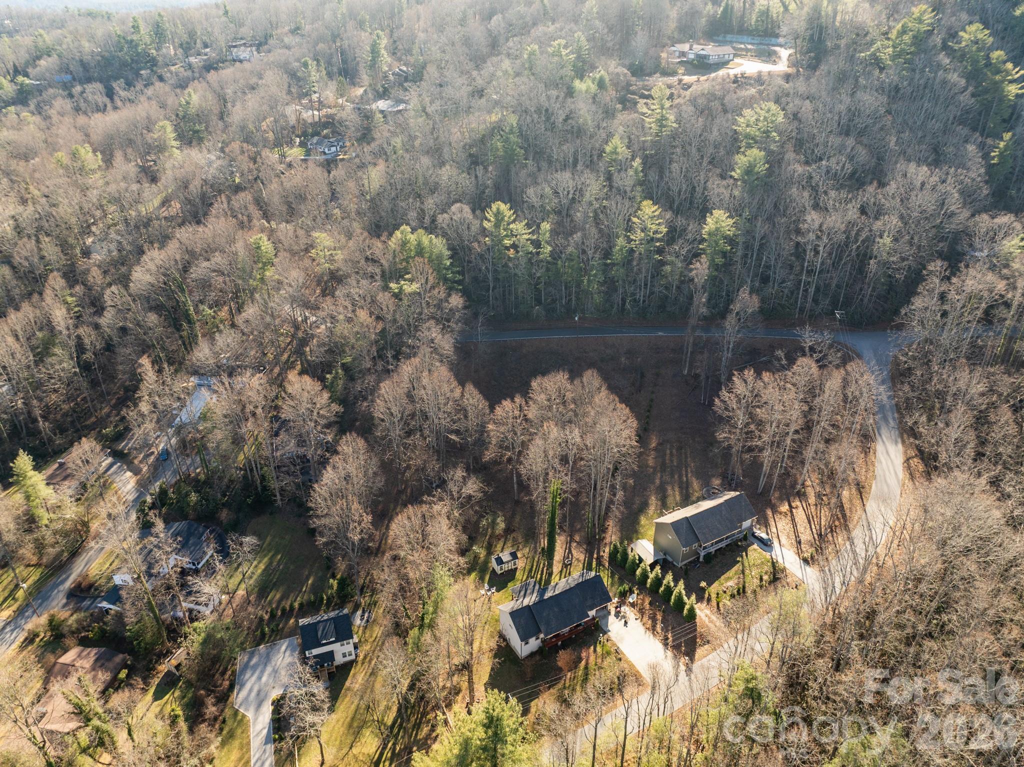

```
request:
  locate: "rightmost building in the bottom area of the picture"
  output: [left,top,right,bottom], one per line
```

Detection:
[655,491,762,567]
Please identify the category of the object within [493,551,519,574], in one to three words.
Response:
shed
